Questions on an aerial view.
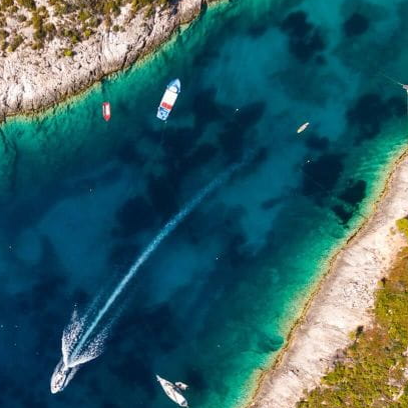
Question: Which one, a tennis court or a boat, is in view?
boat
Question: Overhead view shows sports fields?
No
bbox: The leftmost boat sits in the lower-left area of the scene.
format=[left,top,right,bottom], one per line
[53,365,70,393]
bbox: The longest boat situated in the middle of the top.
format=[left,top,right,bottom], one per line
[157,78,180,122]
